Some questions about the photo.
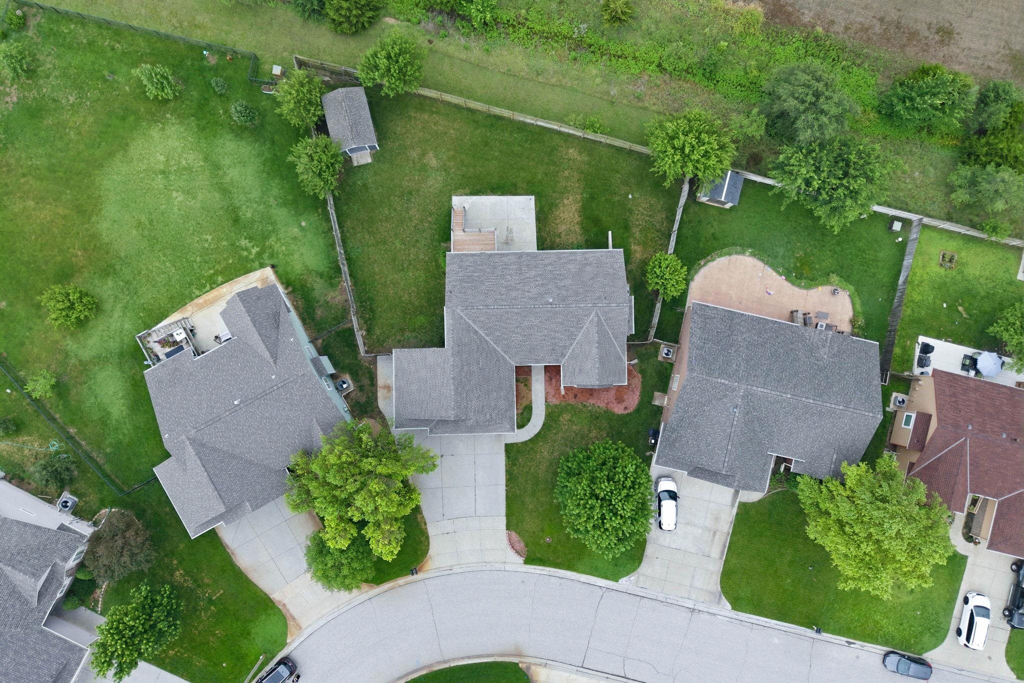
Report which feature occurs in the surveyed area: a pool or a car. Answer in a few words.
car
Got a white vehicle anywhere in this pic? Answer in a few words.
Yes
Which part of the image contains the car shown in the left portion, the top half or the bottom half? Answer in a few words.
bottom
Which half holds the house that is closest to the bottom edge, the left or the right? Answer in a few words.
left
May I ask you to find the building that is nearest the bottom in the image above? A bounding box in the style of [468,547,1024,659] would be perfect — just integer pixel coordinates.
[0,472,108,683]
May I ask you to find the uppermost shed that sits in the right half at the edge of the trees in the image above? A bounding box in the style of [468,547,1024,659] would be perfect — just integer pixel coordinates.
[695,171,743,209]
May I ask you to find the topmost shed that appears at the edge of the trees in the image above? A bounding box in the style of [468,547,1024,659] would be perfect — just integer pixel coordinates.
[323,87,380,166]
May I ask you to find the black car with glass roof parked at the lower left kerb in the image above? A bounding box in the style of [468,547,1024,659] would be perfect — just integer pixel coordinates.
[251,648,299,683]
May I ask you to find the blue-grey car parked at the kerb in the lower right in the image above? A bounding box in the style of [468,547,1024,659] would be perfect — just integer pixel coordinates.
[879,646,935,681]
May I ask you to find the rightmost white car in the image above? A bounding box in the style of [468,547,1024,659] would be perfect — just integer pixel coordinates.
[954,594,990,648]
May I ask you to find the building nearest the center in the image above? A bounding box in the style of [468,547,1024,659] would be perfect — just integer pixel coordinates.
[392,232,637,436]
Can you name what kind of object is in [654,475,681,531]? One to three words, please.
car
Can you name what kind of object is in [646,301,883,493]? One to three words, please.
house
